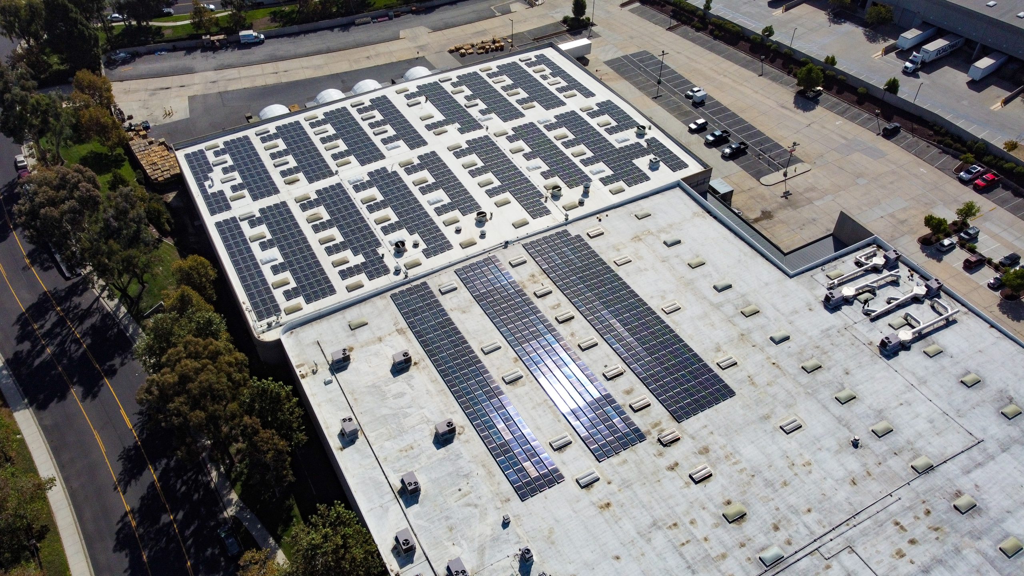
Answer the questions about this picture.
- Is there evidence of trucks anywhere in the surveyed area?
Yes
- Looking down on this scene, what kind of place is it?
industrial area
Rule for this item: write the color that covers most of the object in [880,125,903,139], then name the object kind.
black car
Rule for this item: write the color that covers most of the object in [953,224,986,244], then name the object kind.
gray vehicle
